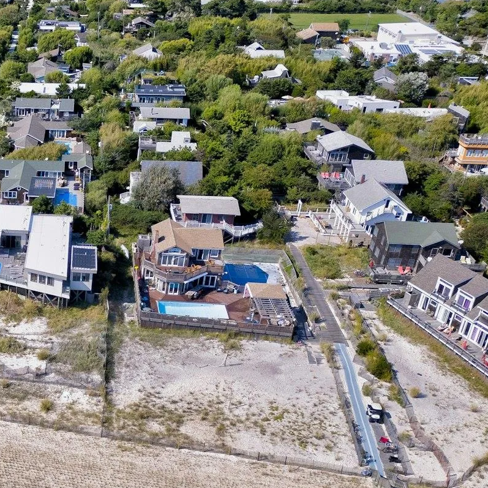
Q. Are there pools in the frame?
Yes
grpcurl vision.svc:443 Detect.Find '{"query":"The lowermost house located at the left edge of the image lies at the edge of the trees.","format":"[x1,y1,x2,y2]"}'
[0,202,98,326]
